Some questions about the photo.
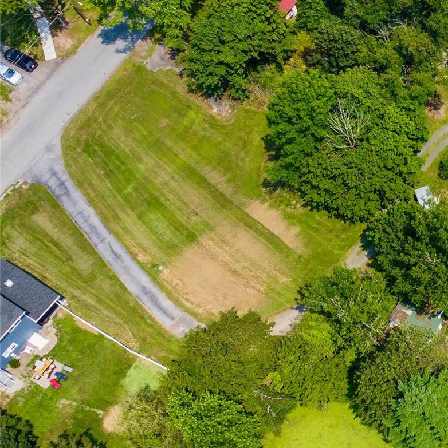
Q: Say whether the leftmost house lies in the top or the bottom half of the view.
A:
bottom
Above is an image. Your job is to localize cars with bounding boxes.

[0,45,42,74]
[0,64,29,88]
